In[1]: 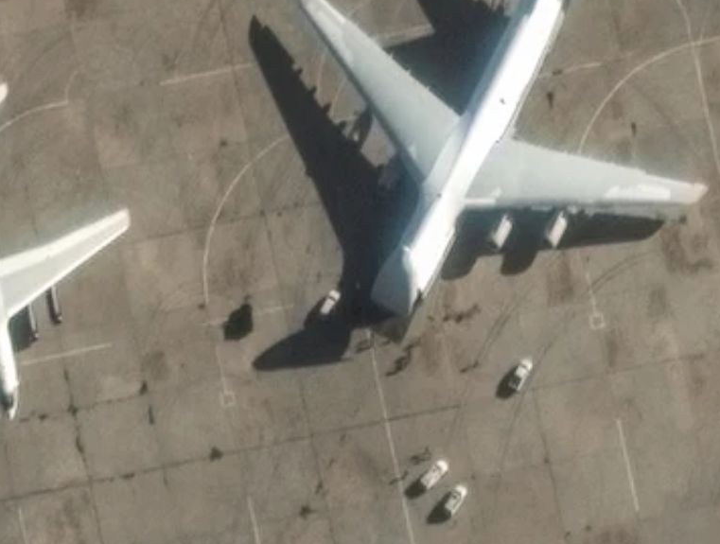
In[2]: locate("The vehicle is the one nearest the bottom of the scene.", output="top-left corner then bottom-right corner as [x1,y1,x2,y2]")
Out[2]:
[442,487,467,517]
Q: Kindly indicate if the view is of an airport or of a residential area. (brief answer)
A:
airport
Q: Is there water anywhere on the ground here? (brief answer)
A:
No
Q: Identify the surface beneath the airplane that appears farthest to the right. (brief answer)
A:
apron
